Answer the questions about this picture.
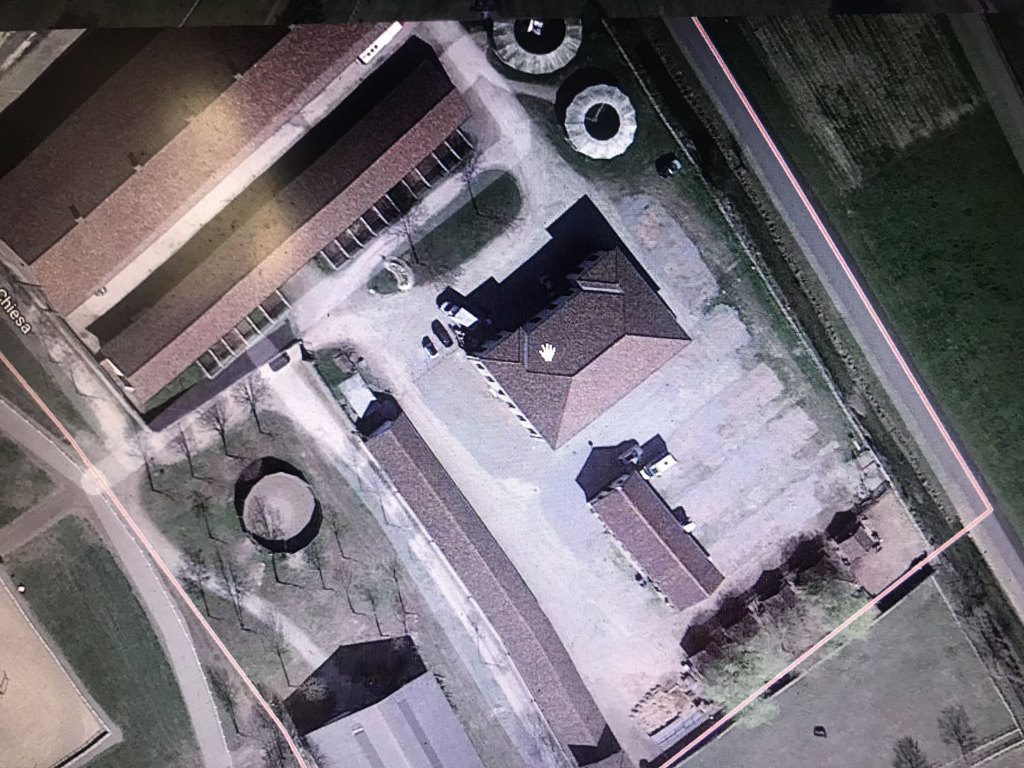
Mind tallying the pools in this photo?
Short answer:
none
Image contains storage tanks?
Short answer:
Yes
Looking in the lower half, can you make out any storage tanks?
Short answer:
Yes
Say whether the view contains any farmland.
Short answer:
Yes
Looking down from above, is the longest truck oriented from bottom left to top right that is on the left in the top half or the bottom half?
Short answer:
top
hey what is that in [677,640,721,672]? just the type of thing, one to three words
shed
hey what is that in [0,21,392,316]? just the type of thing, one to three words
barn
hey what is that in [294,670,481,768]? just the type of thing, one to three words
building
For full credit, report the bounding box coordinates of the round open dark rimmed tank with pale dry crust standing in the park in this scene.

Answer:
[235,470,324,553]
